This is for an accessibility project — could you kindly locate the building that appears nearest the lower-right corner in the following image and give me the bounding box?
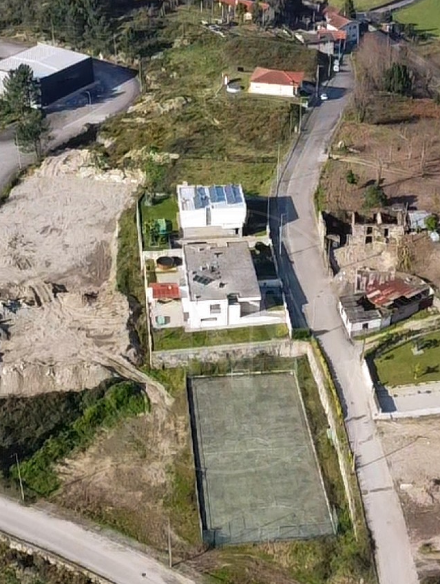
[338,267,434,338]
